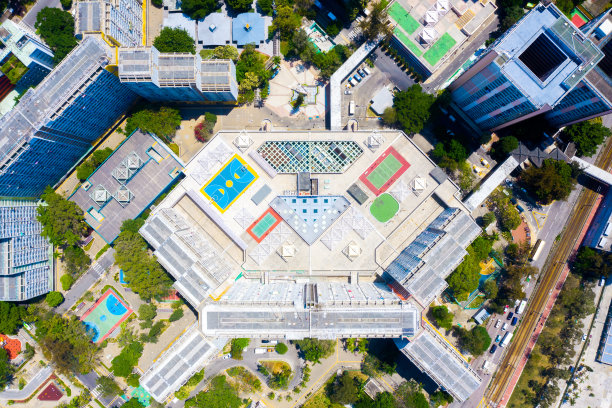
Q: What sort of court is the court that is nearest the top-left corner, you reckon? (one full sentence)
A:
What you see as the court that is nearest the top-left corner is a basketball court.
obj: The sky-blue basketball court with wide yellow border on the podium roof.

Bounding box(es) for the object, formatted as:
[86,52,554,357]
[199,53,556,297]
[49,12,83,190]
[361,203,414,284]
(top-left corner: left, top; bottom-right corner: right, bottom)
[200,154,259,213]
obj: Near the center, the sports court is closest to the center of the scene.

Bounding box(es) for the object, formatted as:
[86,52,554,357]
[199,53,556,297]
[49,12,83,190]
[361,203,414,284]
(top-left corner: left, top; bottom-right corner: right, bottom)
[247,207,283,243]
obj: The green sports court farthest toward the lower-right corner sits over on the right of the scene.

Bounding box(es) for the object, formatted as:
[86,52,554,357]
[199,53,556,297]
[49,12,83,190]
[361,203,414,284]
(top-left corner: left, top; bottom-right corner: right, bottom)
[371,194,397,222]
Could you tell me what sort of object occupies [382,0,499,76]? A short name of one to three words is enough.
building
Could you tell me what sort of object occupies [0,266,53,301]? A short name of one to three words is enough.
building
